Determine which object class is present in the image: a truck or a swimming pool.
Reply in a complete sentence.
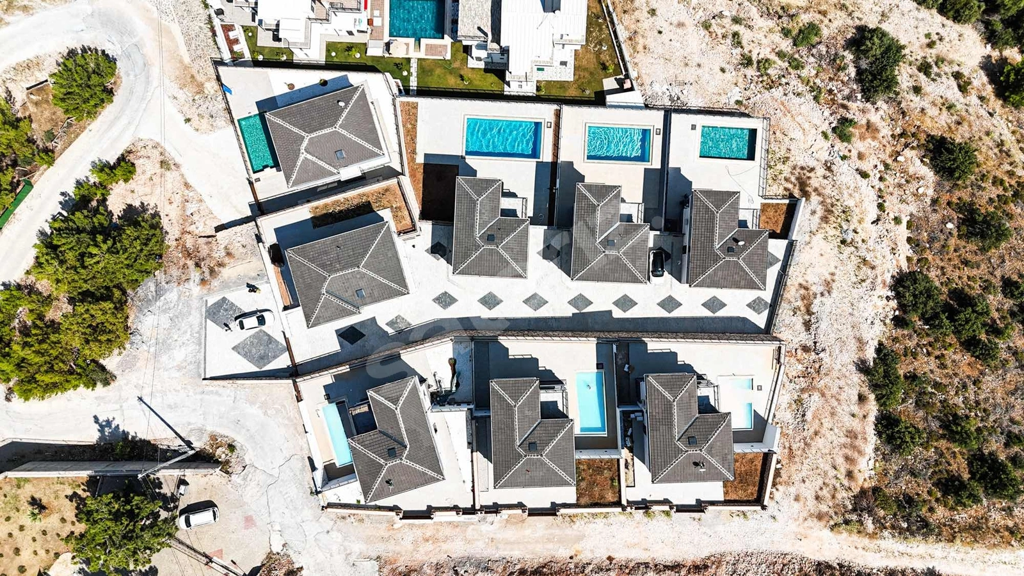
This aerial view contains a swimming pool.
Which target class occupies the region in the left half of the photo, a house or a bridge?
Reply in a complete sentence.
There is a house in the left half of the photo.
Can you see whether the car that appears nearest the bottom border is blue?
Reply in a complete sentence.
No, the color of the car that appears nearest the bottom border is white.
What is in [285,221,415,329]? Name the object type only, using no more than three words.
house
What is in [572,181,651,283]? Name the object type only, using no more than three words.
house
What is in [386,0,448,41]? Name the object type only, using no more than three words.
swimming pool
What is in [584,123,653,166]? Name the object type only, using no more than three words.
swimming pool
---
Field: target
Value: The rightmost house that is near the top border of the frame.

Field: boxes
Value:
[458,0,586,94]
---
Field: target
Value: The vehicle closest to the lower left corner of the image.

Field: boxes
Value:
[180,502,221,528]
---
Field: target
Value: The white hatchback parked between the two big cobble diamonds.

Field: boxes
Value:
[236,310,275,330]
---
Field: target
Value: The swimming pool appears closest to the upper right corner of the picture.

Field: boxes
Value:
[695,121,761,165]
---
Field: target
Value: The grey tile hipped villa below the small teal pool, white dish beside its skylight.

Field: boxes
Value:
[684,187,768,292]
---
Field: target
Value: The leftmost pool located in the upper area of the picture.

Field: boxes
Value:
[235,110,281,176]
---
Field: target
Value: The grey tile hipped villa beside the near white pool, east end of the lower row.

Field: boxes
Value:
[643,372,736,484]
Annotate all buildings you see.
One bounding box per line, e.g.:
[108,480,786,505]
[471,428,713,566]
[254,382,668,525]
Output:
[684,187,768,292]
[572,181,651,283]
[231,0,366,56]
[643,372,736,484]
[264,78,392,189]
[458,0,586,94]
[489,376,577,490]
[285,221,415,329]
[452,176,531,278]
[346,370,446,505]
